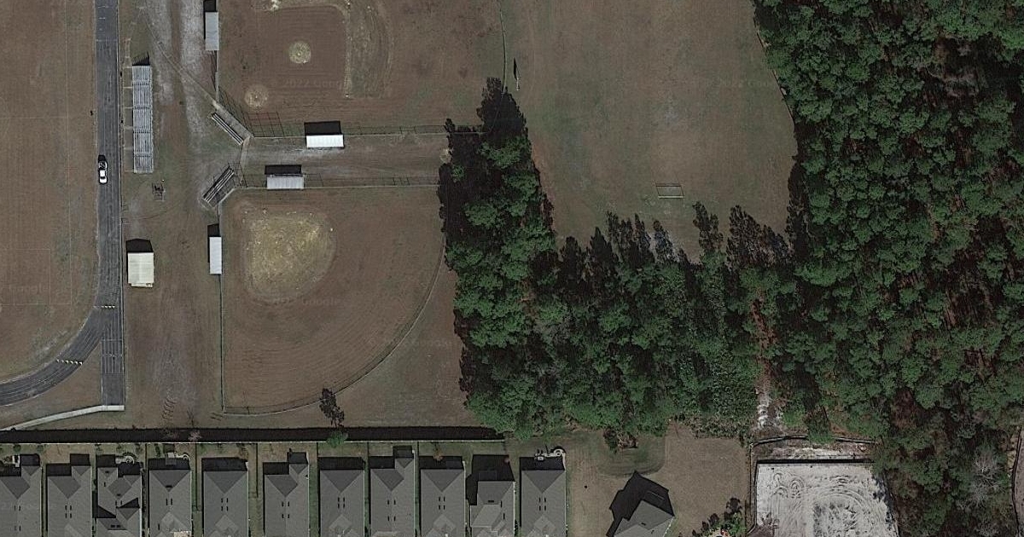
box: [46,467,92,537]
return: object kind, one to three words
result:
house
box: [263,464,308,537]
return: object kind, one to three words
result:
house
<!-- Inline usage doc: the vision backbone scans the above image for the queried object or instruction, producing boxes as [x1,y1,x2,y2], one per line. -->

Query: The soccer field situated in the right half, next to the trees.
[509,0,793,245]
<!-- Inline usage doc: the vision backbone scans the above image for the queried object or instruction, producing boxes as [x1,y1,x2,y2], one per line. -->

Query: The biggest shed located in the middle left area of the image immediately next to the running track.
[127,252,153,288]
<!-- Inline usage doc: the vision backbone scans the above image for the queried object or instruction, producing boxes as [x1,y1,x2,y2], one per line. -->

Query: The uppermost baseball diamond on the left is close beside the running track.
[219,0,505,136]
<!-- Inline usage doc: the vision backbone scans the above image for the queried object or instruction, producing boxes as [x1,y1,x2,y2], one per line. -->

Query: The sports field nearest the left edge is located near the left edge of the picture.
[0,0,97,381]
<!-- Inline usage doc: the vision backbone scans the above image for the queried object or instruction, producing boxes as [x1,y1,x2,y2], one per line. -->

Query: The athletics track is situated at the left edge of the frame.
[0,0,125,406]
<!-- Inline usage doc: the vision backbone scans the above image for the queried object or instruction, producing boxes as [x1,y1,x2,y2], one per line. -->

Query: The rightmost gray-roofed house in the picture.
[617,493,675,537]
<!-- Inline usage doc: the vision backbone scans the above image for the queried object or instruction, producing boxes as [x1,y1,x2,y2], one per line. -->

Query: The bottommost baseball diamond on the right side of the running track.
[224,186,444,414]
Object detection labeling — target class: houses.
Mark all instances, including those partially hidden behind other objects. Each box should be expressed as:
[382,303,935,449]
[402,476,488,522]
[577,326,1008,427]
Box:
[371,458,415,537]
[421,470,465,537]
[149,470,191,537]
[0,467,41,537]
[320,470,364,537]
[263,464,308,537]
[46,467,92,537]
[521,471,566,537]
[202,471,248,537]
[96,468,141,537]
[617,493,675,537]
[470,482,515,537]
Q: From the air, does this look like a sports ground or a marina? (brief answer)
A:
sports ground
